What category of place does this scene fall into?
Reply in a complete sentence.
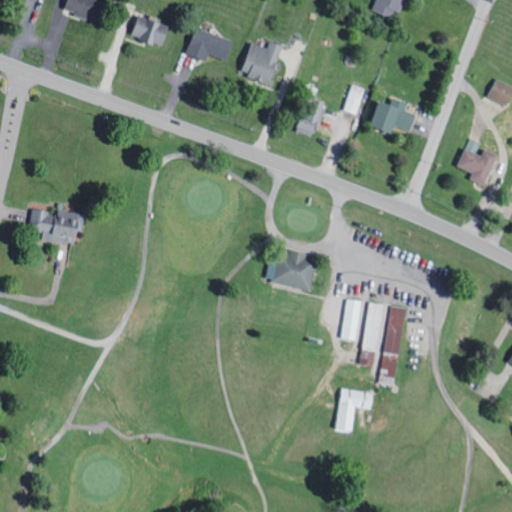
It's a golf course.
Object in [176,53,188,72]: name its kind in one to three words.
vehicle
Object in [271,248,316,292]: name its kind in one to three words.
building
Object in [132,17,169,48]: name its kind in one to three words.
house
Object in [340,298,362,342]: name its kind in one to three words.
barn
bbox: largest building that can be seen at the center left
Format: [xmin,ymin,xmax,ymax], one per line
[30,208,84,246]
